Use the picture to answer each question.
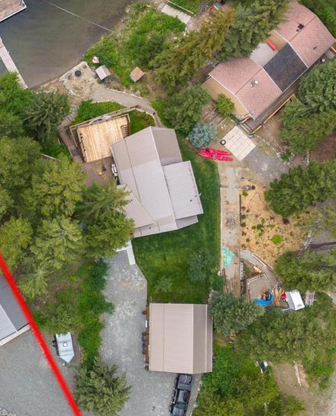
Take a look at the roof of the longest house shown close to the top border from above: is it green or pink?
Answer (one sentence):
The roof of the longest house shown close to the top border looks pink in the image.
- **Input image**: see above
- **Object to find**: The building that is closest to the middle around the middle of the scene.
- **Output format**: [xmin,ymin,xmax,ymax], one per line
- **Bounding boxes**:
[77,114,204,238]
